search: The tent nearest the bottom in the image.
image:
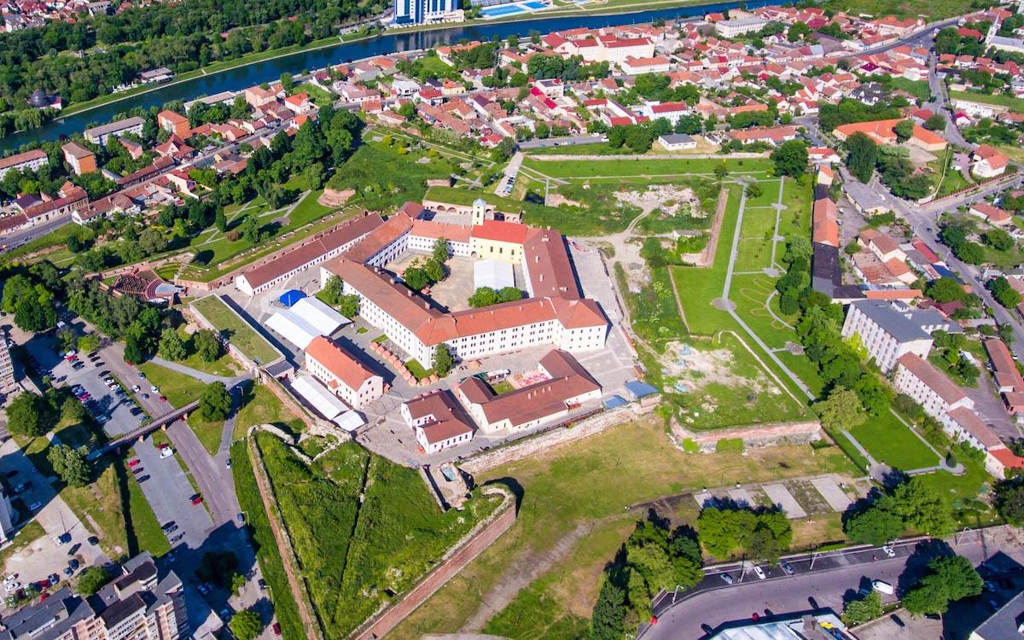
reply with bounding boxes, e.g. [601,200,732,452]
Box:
[329,413,368,440]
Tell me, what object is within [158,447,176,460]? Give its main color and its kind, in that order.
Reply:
white vehicle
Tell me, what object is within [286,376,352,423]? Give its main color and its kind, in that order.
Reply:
white tent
